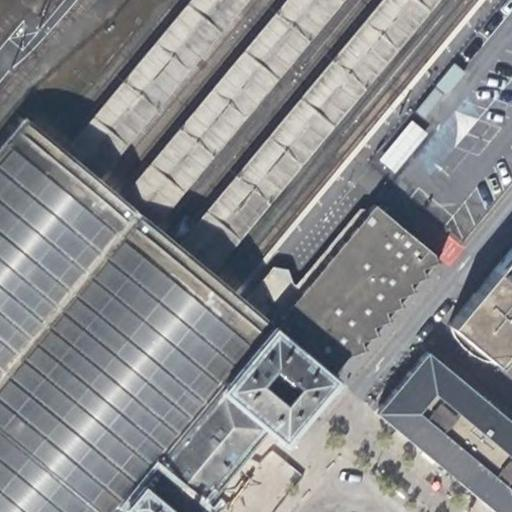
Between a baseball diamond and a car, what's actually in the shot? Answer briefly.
car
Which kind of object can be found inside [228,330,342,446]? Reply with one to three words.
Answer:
building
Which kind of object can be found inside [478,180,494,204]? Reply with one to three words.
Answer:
car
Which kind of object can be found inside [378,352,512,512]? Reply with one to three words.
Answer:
building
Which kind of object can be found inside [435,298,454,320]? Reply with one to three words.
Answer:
car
